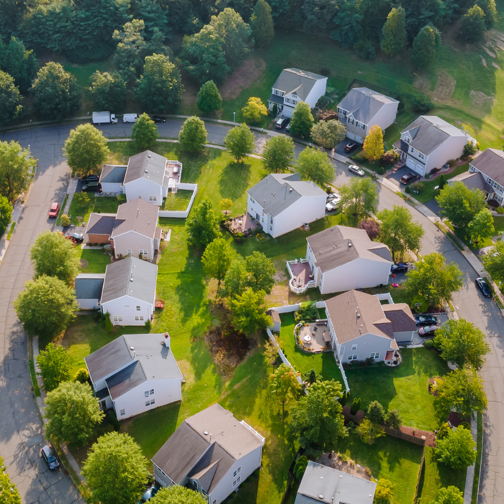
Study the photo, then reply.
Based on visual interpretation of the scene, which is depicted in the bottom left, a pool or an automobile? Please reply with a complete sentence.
The one visible in the bottom left is an automobile.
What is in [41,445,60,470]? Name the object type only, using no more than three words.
car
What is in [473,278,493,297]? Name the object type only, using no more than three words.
car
